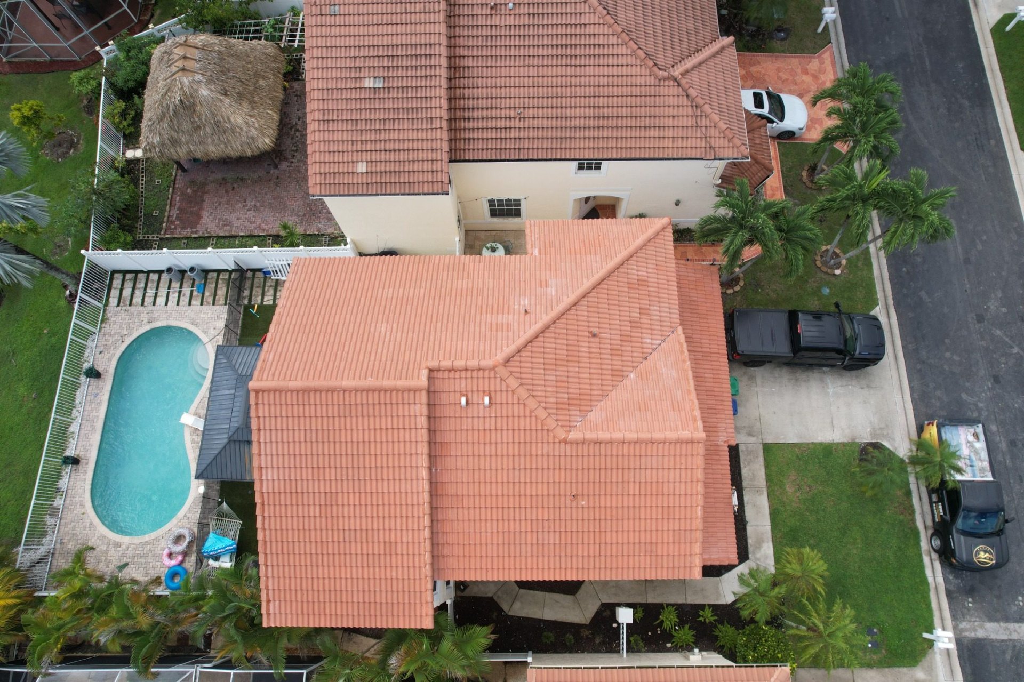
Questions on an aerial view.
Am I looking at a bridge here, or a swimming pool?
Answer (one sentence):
The one in the frame is a swimming pool.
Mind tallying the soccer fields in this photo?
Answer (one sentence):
There are no soccer fields in the image.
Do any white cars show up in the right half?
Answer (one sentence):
Yes, a white car can be seen in the right half.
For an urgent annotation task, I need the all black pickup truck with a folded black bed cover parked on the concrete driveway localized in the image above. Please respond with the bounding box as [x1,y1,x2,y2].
[724,313,890,383]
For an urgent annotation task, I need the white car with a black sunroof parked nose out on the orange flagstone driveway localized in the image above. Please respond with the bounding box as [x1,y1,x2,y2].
[742,83,808,141]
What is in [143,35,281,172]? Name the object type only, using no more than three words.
shed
